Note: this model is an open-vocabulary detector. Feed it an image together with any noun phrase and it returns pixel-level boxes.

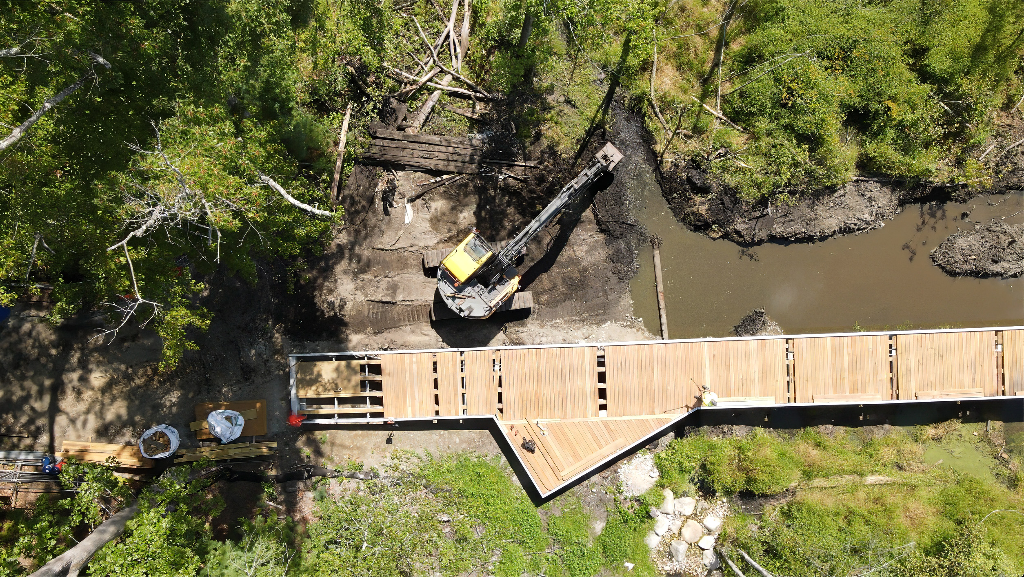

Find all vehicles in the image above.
[421,142,626,323]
